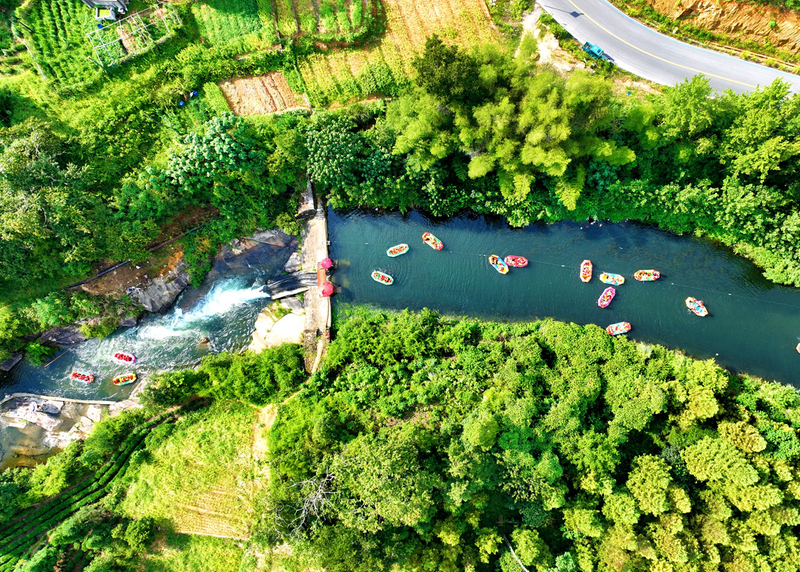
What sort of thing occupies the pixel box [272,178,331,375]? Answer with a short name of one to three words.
dam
